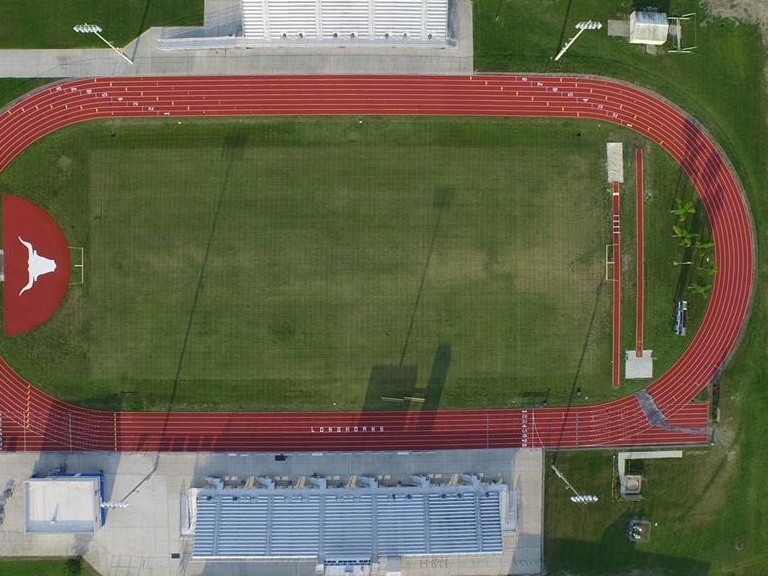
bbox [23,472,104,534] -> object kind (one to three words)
building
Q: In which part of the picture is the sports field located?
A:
center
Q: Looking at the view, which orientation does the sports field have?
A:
from side to side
